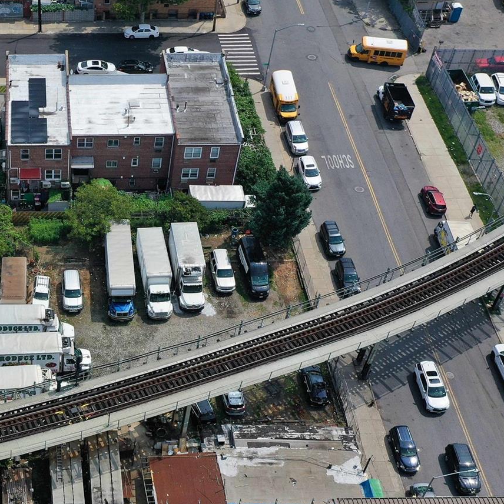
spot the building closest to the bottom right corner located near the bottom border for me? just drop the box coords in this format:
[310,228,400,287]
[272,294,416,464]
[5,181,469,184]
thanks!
[193,425,387,504]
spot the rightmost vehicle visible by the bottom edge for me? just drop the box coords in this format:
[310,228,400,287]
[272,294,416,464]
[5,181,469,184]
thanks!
[439,435,488,498]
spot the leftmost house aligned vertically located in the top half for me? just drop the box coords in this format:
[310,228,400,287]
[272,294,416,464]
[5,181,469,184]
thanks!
[7,52,72,199]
